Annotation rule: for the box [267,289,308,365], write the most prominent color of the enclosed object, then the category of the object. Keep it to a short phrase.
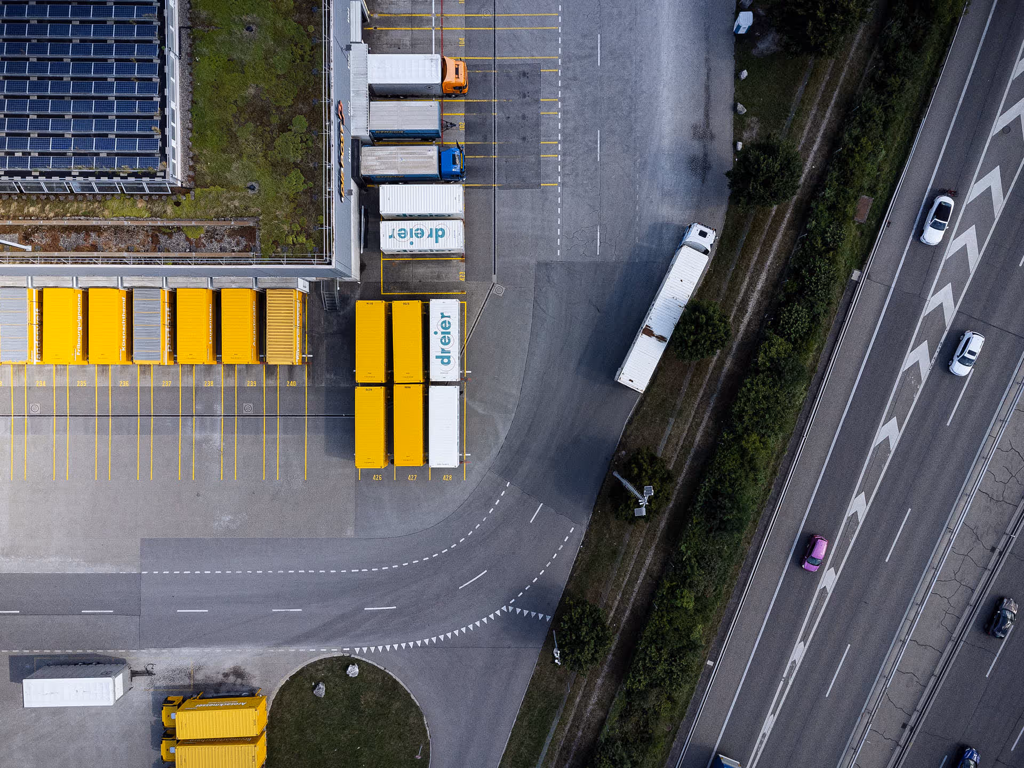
yellow shipping container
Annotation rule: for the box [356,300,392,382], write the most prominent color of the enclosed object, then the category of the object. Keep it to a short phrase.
yellow shipping container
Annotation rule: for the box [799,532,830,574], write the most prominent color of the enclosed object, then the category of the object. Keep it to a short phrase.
purple car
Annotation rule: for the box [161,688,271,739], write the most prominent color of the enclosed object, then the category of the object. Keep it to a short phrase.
yellow truck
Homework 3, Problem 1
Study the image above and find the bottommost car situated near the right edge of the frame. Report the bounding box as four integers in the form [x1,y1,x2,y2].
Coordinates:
[952,745,981,768]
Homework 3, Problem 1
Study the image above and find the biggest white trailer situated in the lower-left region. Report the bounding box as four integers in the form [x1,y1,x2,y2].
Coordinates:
[23,660,157,707]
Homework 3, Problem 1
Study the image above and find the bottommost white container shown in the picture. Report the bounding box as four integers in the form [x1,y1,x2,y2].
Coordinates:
[429,385,460,467]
